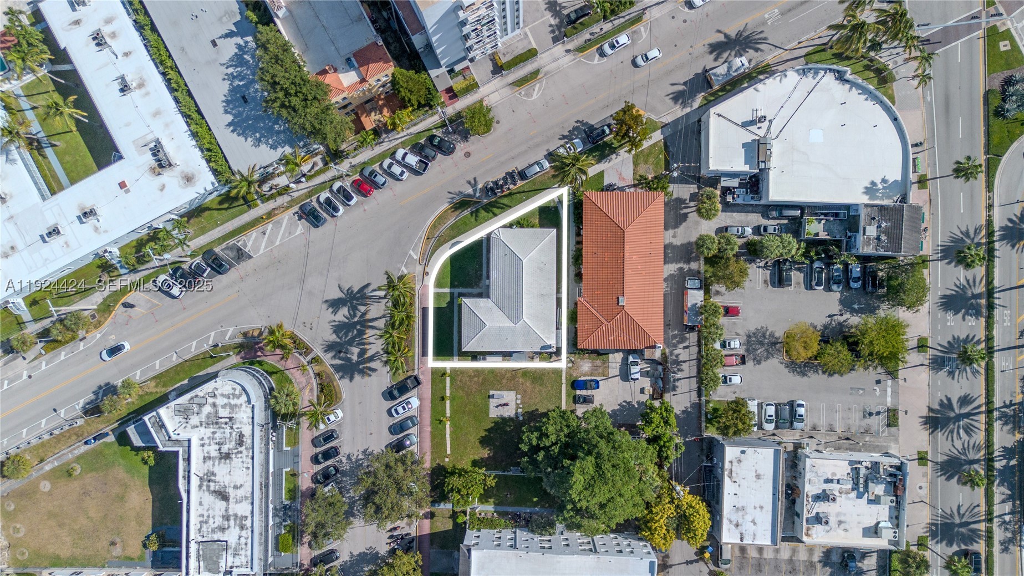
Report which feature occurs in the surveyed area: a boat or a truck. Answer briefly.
truck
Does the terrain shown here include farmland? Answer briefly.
No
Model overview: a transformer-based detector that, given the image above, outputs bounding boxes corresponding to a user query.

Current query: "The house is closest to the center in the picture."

[462,228,557,352]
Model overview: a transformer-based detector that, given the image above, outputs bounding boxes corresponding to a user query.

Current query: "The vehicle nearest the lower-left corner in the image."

[84,428,113,448]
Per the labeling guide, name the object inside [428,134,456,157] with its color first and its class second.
black car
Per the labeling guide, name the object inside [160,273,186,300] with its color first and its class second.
white car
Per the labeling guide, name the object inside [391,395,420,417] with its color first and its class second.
white car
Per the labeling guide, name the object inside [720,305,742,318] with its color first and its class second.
red vehicle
